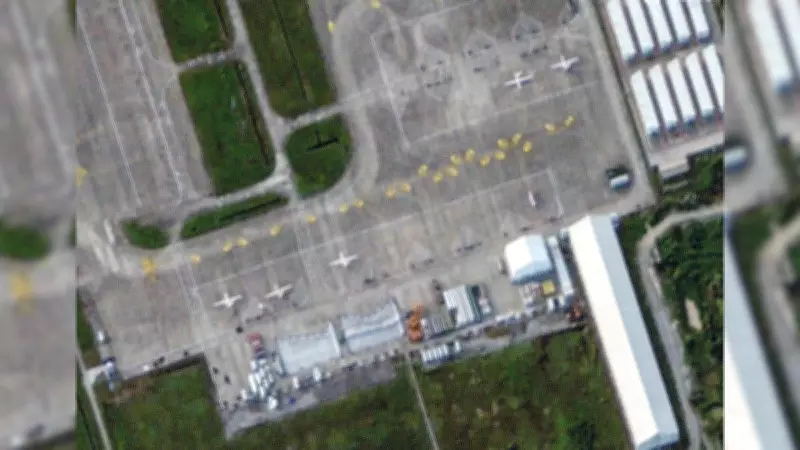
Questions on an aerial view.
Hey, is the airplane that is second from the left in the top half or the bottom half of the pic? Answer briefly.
bottom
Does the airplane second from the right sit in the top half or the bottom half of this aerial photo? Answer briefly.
top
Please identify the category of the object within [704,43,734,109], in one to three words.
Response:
building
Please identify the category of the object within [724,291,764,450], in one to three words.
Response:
hangar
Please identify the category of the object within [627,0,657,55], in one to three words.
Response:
building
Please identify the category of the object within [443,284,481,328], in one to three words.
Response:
shed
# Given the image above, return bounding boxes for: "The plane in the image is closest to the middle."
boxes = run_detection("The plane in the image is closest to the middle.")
[330,251,359,271]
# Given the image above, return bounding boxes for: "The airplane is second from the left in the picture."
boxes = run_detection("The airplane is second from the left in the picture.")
[263,284,292,303]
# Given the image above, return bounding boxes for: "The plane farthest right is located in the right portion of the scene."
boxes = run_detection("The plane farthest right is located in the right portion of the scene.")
[552,55,579,73]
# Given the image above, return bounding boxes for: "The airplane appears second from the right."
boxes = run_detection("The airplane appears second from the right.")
[505,70,533,89]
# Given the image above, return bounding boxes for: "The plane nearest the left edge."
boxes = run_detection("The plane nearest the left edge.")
[213,291,242,311]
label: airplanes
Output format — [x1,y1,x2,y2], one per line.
[213,291,242,311]
[552,55,579,73]
[263,284,292,303]
[505,70,533,89]
[330,251,359,271]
